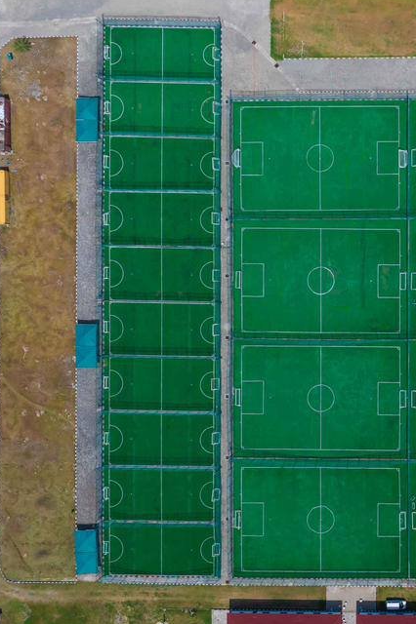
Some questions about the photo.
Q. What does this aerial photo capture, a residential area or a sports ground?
sports ground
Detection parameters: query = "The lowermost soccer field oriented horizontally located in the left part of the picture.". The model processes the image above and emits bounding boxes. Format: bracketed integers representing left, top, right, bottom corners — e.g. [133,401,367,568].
[104,521,220,577]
